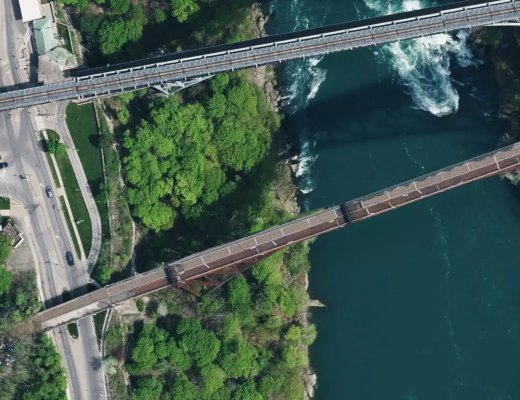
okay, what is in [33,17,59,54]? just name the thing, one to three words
building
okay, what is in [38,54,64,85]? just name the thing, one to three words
building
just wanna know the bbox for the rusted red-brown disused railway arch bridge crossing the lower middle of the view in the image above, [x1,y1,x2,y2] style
[35,140,520,334]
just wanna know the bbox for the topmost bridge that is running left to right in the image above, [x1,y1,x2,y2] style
[0,0,520,110]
